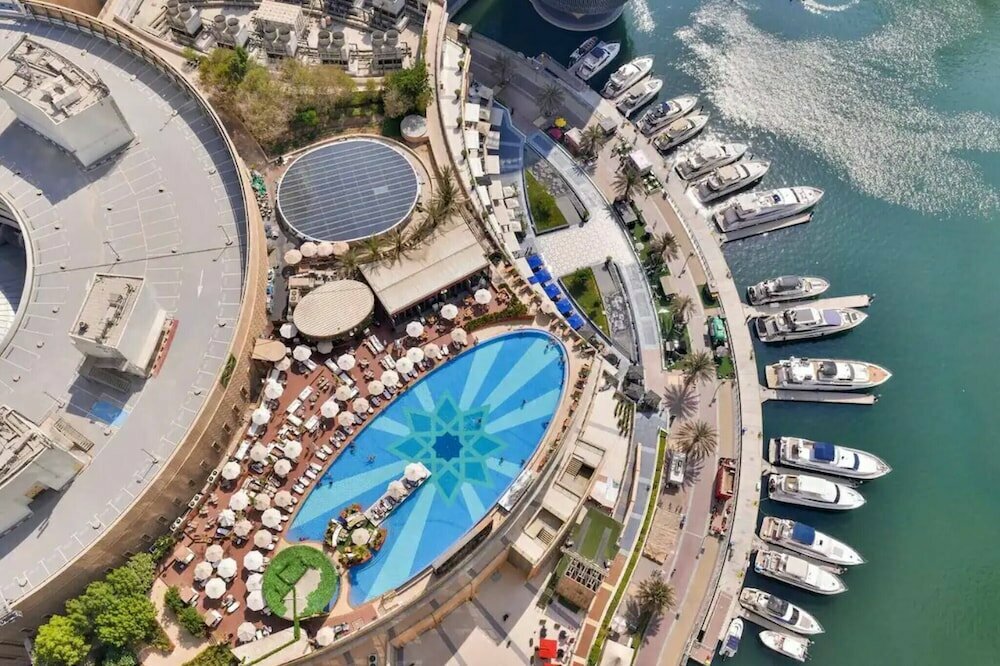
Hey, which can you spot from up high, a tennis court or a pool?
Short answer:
pool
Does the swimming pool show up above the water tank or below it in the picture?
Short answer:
below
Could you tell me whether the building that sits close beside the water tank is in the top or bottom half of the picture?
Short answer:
top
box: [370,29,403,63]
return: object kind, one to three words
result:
cooling tower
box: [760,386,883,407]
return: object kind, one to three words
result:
pier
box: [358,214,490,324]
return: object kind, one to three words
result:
building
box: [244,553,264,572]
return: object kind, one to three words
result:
umbrella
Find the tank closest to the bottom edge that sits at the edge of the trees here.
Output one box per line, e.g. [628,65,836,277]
[402,120,427,146]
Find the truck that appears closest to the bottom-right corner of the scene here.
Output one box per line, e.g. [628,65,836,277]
[713,458,736,503]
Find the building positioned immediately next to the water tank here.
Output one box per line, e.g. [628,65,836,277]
[276,139,420,251]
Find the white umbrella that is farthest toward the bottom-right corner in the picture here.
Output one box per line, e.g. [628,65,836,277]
[609,613,631,636]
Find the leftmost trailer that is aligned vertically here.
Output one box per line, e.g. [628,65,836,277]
[668,453,688,496]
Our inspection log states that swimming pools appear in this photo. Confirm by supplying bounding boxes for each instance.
[279,325,573,615]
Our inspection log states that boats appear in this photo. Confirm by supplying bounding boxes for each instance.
[755,511,864,568]
[754,355,890,395]
[748,535,846,598]
[664,145,746,186]
[572,46,619,84]
[758,464,864,516]
[635,100,696,142]
[733,571,822,638]
[701,188,823,242]
[719,619,743,657]
[742,307,866,349]
[735,277,827,312]
[680,161,771,207]
[616,83,662,122]
[568,37,596,65]
[761,427,891,483]
[649,116,708,156]
[599,60,652,107]
[759,629,811,661]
